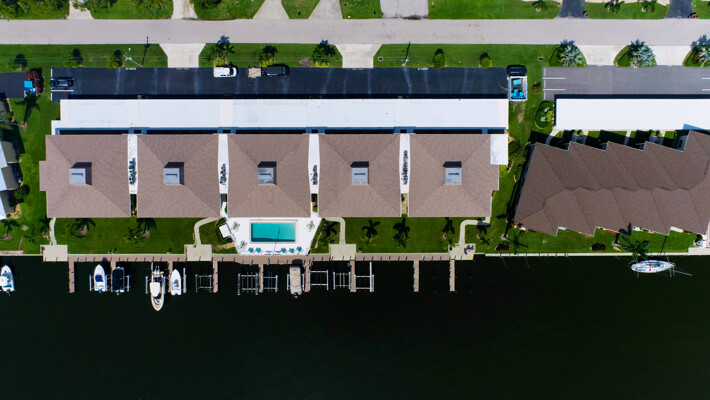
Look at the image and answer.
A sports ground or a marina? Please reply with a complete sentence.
This looks like a marina.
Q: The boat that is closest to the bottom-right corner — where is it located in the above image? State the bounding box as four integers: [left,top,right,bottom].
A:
[629,260,692,274]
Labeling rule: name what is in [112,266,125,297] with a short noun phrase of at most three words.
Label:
boat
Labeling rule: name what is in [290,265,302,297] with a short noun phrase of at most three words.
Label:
boat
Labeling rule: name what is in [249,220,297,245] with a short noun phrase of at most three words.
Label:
swimming pool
